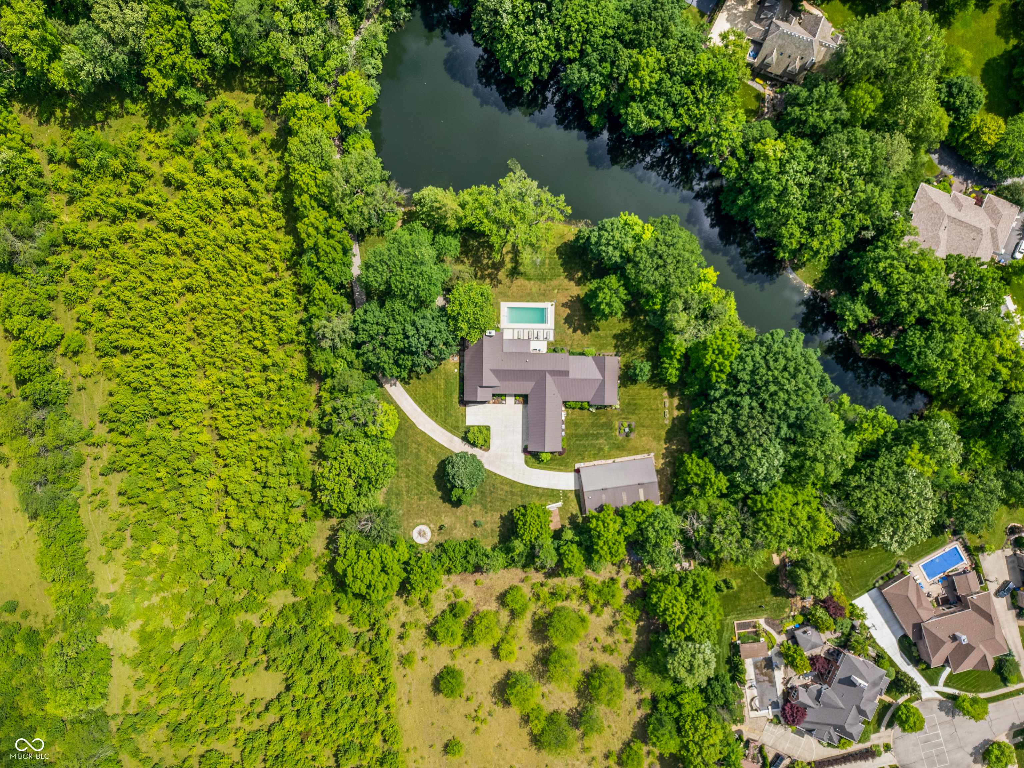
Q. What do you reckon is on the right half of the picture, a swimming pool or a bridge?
swimming pool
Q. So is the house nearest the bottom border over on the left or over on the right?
right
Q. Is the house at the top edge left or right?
right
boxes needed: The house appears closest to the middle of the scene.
[464,330,619,452]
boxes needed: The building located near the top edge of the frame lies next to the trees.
[747,0,837,90]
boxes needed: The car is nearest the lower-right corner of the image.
[994,581,1015,599]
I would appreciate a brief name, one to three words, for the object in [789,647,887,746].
house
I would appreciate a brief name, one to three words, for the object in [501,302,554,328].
swimming pool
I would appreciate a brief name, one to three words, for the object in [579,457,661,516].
barn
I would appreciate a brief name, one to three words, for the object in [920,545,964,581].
swimming pool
